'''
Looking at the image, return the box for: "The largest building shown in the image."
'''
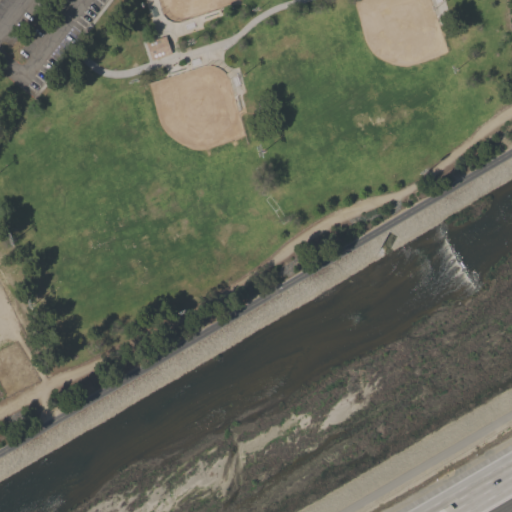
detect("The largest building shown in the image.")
[146,36,172,60]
